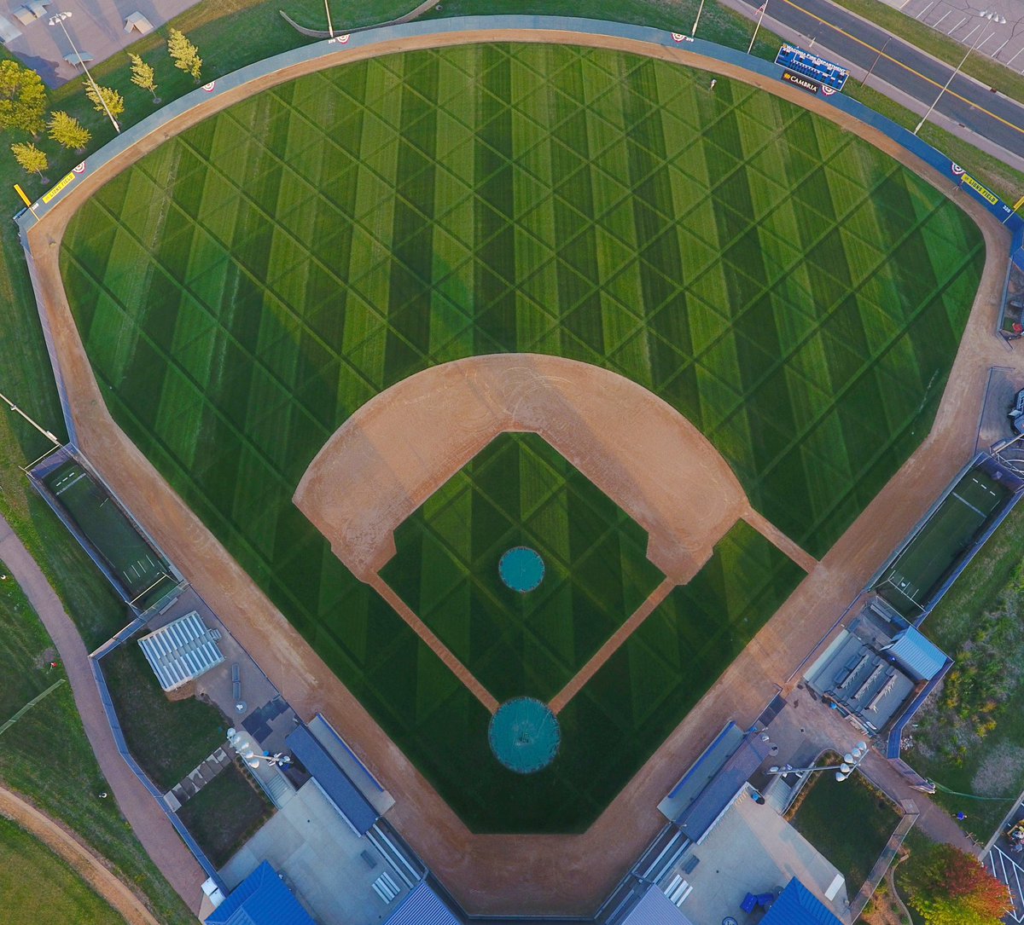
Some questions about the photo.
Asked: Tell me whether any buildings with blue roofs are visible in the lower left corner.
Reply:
Yes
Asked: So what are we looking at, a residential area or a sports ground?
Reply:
sports ground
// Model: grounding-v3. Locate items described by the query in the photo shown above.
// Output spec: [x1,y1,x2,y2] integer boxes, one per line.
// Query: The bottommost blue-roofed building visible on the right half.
[750,877,843,925]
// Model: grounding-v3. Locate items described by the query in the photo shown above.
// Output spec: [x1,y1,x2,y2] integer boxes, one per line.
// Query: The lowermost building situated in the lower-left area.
[202,860,321,925]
